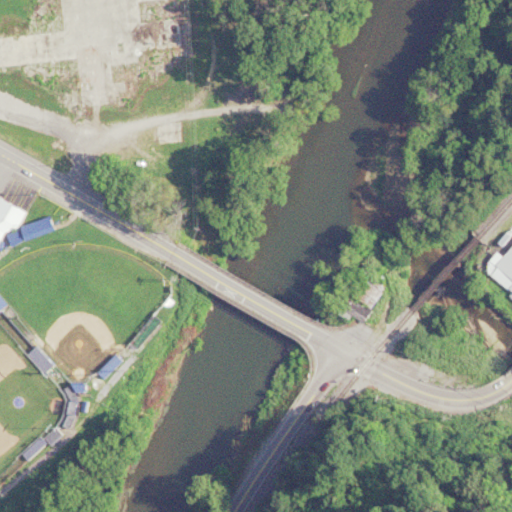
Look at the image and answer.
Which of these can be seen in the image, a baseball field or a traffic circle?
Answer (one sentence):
Of the two, only a baseball field appears.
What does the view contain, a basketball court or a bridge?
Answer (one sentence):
This aerial view contains a bridge.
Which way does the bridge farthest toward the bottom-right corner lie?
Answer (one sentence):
What the image shows is the bridge farthest toward the bottom-right corner lying at an angle.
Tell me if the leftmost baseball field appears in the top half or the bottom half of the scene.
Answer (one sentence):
The bottom half of the photo is where the leftmost baseball field is.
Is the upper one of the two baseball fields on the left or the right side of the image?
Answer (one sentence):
You can find the upper one of the two baseball fields on the left side of the picture.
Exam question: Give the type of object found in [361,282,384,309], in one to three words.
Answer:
house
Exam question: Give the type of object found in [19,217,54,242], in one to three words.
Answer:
shed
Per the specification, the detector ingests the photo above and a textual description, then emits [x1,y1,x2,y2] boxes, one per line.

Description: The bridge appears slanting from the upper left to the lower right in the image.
[190,257,324,350]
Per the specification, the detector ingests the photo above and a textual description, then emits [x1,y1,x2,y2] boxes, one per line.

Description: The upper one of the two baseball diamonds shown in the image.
[0,244,172,384]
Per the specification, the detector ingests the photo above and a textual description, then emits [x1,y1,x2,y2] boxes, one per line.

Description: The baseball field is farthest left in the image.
[0,321,64,476]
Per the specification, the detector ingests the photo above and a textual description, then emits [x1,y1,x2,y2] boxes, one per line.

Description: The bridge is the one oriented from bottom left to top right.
[405,231,482,312]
